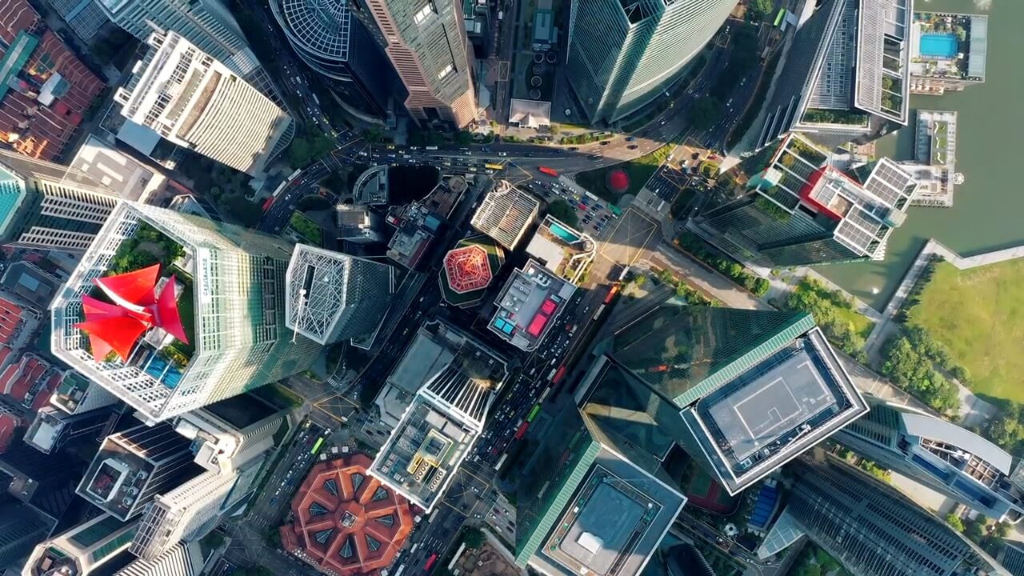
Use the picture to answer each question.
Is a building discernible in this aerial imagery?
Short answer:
Yes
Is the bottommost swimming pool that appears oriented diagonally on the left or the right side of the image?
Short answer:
right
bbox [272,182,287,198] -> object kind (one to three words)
vehicle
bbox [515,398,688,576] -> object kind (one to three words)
building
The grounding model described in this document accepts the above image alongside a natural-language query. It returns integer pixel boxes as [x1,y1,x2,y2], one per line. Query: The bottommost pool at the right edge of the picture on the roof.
[953,477,997,509]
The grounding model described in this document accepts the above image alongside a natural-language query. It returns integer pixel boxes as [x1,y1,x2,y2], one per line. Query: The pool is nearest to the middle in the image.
[550,224,578,244]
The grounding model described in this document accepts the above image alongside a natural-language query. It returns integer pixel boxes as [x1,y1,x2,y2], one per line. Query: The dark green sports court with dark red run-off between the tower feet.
[669,447,740,514]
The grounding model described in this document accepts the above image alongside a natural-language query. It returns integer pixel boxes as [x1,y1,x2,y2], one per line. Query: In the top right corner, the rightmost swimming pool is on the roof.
[920,34,959,56]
